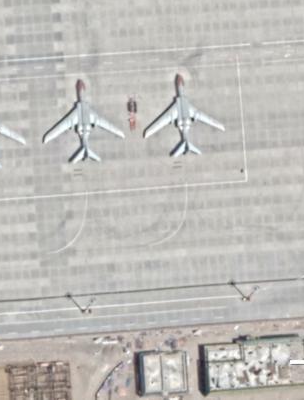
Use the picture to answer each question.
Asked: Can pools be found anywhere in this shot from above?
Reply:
No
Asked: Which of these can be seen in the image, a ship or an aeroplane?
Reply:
aeroplane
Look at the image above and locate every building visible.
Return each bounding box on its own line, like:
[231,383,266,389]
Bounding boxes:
[139,351,189,400]
[201,338,304,396]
